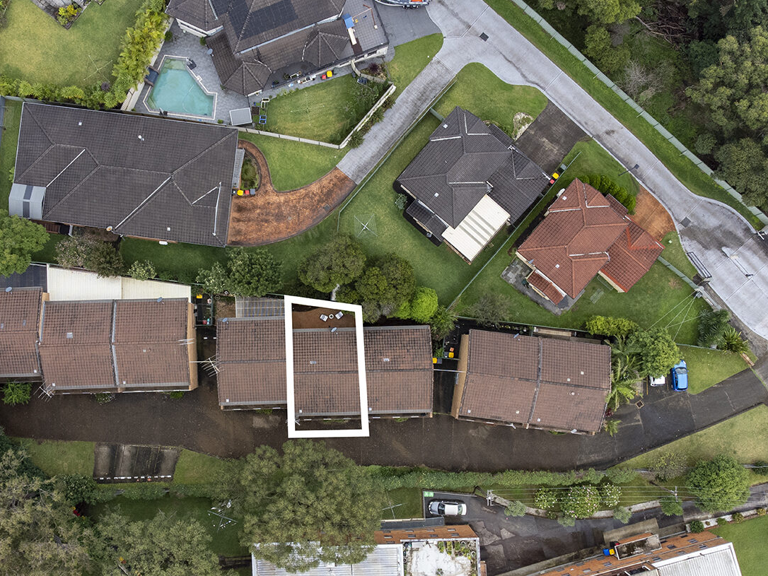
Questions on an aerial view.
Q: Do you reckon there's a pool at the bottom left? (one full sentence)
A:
No, I see no pool at the bottom left.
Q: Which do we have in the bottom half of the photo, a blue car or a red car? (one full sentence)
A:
You can see a blue car in the bottom half of the photo.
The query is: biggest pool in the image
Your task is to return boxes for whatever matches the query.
[141,54,218,119]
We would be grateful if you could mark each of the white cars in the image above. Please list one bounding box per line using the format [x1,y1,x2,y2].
[427,500,466,516]
[648,360,666,389]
